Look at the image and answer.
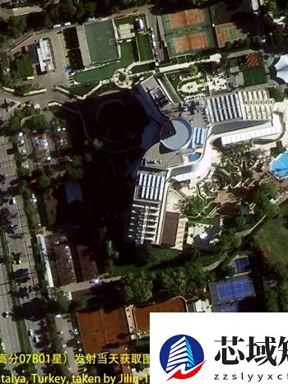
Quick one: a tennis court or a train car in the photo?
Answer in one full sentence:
Of the two, only a tennis court appears.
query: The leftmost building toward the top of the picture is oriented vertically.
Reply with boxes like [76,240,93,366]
[37,39,52,74]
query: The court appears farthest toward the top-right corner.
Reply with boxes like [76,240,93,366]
[215,22,247,48]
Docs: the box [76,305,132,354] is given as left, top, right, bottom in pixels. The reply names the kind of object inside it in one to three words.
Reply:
tennis court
